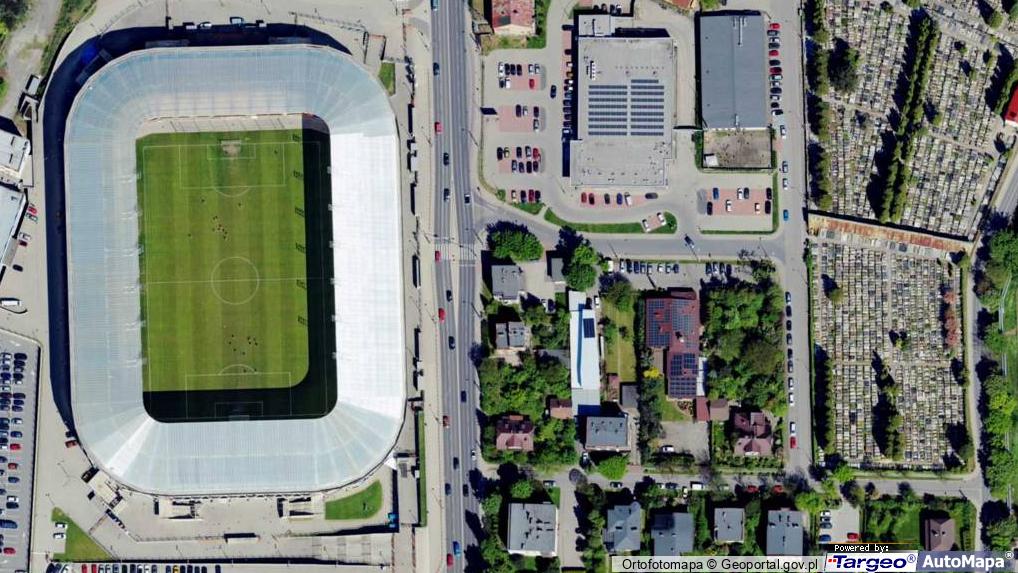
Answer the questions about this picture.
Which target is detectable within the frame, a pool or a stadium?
stadium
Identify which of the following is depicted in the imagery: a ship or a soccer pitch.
soccer pitch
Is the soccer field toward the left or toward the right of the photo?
left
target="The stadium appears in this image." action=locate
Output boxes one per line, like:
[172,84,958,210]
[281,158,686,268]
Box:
[64,42,407,500]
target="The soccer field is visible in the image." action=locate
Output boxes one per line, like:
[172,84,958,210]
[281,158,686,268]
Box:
[135,129,336,421]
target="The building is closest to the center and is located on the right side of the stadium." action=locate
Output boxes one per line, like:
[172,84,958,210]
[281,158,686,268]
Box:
[492,265,522,306]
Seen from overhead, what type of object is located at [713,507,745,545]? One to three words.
house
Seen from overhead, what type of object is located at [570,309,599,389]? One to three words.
building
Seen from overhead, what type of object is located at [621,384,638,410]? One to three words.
shed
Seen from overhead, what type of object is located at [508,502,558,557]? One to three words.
house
